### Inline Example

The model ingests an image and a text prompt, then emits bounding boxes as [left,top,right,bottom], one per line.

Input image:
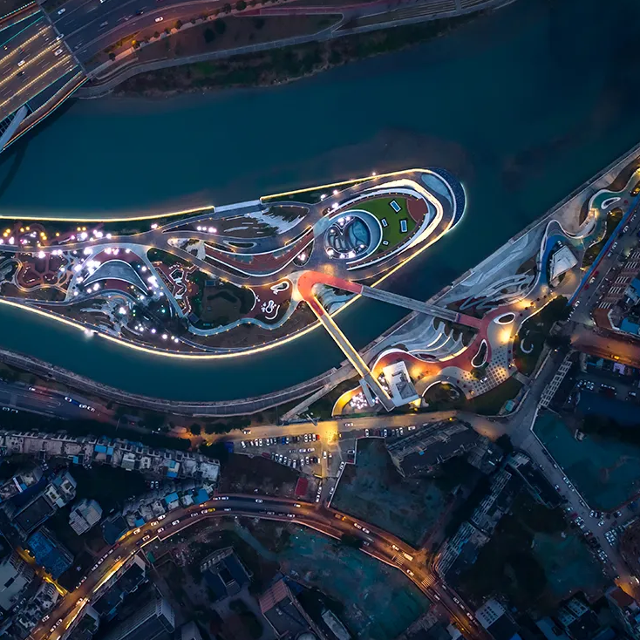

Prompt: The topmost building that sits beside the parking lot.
[380,360,421,407]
